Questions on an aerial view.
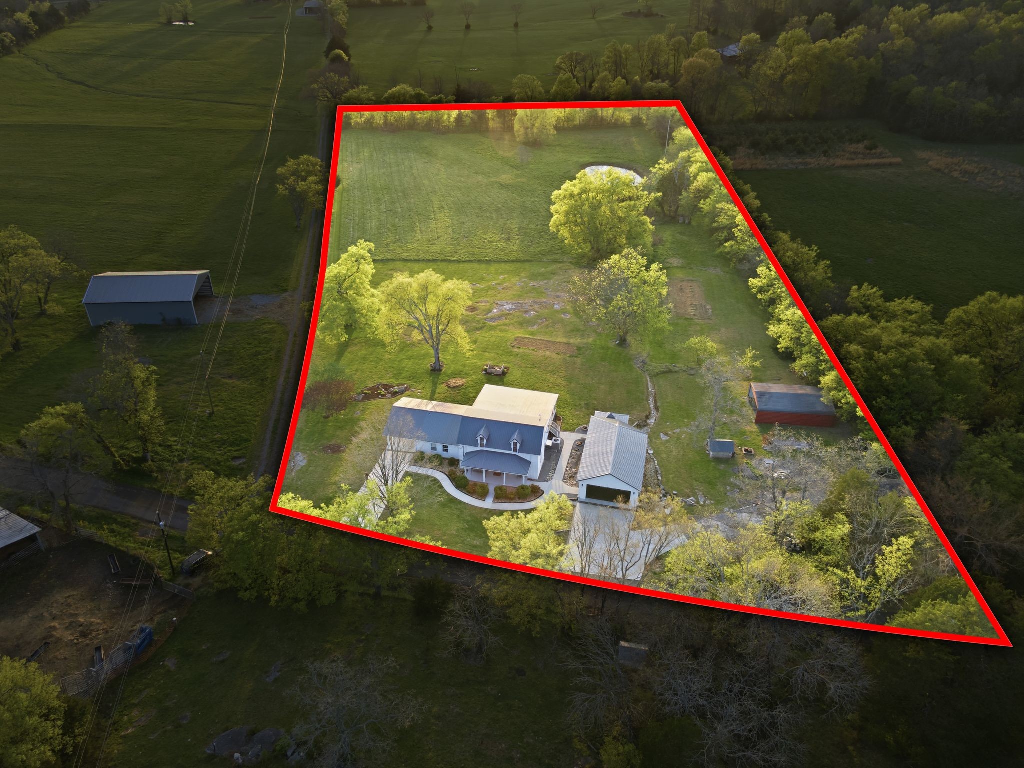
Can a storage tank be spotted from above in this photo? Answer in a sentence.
No, the frame has no storage tank in it.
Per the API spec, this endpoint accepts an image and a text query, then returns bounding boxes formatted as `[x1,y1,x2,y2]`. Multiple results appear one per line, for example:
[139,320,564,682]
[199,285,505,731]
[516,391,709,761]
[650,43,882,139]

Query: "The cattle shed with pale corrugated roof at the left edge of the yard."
[0,501,48,565]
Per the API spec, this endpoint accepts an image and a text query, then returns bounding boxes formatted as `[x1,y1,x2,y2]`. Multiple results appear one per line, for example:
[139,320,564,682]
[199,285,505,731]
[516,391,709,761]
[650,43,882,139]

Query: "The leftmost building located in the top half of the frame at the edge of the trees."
[82,272,218,327]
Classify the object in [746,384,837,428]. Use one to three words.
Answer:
barn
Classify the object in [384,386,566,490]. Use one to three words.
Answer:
house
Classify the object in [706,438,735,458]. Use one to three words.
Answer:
shed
